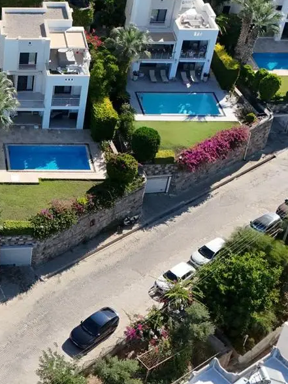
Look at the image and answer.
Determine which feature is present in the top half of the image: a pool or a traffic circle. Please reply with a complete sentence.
Looking in the top half of the image, you will find a pool.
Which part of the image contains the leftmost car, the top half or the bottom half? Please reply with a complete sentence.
Seen from above, the leftmost car lies in the bottom half of the view.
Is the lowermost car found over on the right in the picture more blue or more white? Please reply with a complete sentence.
The color of the lowermost car found over on the right is white.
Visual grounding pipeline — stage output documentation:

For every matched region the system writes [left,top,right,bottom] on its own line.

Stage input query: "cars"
[152,260,198,295]
[244,211,287,239]
[66,310,116,351]
[186,240,225,271]
[273,200,288,223]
